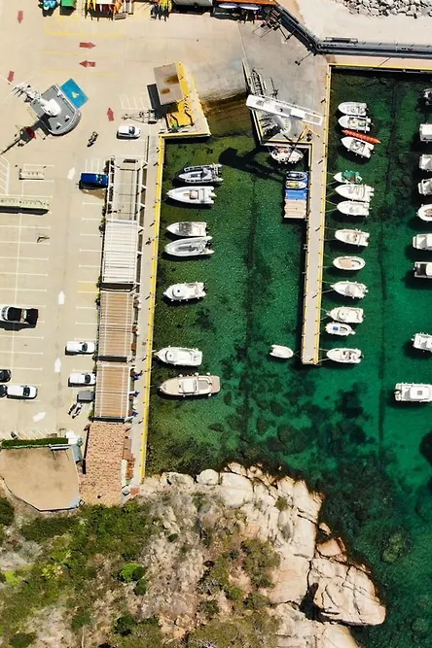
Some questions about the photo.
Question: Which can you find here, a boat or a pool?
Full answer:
There is a boat in the scene.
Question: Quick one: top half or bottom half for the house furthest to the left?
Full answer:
It is in the bottom half that the house furthest to the left appears.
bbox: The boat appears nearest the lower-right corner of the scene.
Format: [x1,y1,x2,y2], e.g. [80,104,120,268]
[391,381,432,403]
